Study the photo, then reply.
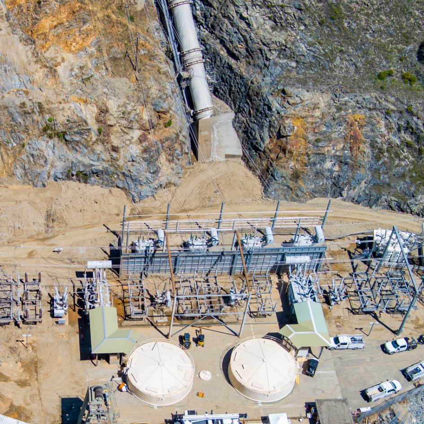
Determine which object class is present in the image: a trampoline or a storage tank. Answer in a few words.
storage tank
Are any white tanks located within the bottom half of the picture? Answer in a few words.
Yes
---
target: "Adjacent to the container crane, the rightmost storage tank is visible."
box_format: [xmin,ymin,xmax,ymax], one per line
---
[124,339,195,409]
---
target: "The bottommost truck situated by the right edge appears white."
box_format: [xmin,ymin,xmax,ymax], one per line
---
[364,380,404,402]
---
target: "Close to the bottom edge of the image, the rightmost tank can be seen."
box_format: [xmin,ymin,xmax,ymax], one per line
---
[226,335,300,405]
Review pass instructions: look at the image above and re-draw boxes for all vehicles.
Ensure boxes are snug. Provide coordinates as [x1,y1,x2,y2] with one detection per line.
[307,357,319,376]
[196,330,205,349]
[172,407,249,424]
[383,338,420,356]
[403,360,424,380]
[364,380,404,402]
[329,333,368,350]
[181,335,192,350]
